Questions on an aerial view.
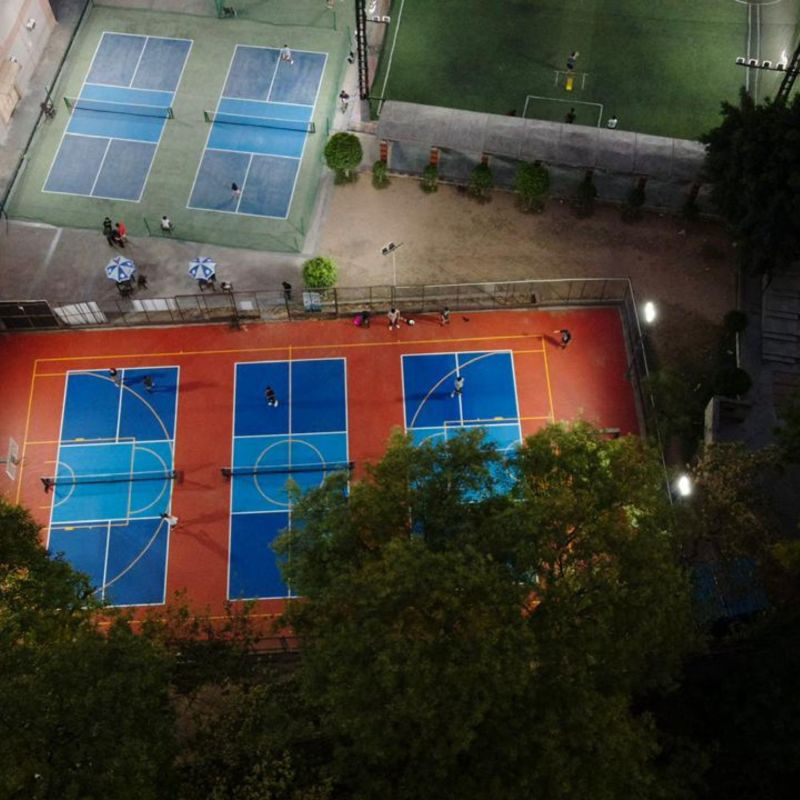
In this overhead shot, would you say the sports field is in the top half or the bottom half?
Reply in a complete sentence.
You can find the sports field in the top half.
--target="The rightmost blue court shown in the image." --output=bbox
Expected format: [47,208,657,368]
[401,349,527,583]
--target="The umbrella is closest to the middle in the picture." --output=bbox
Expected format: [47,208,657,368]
[191,258,217,282]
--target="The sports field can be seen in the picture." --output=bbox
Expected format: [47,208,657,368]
[370,0,800,149]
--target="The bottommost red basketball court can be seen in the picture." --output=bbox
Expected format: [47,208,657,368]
[0,307,648,661]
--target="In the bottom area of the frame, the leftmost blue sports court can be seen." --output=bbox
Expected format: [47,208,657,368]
[40,365,180,609]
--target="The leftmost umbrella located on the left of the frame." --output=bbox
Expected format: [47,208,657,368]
[108,259,137,283]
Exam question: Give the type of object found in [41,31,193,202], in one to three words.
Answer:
sports court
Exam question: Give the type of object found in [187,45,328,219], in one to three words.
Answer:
sports court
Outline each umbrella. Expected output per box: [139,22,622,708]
[108,259,137,283]
[191,258,217,282]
